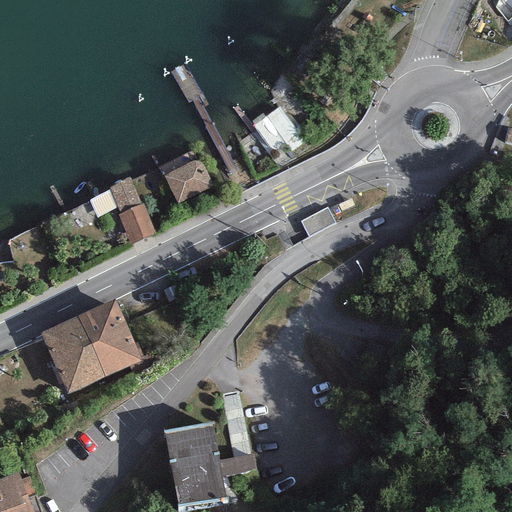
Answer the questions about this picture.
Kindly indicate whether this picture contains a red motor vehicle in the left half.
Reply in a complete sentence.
Yes, a red motor vehicle can be seen in the left half.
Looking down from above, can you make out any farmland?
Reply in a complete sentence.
No, there is no farmland in the image.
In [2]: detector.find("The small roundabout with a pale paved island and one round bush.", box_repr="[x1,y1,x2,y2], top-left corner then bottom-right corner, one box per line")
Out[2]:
[386,76,487,176]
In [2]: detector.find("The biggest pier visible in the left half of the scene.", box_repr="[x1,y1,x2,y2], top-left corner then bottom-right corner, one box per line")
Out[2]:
[172,64,236,172]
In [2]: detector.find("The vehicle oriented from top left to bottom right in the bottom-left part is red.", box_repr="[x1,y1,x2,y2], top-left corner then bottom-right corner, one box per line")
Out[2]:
[77,432,96,452]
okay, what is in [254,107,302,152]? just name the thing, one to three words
building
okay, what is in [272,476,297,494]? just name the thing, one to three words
car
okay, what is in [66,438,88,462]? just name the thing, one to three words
car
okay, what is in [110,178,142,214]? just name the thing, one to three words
shed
